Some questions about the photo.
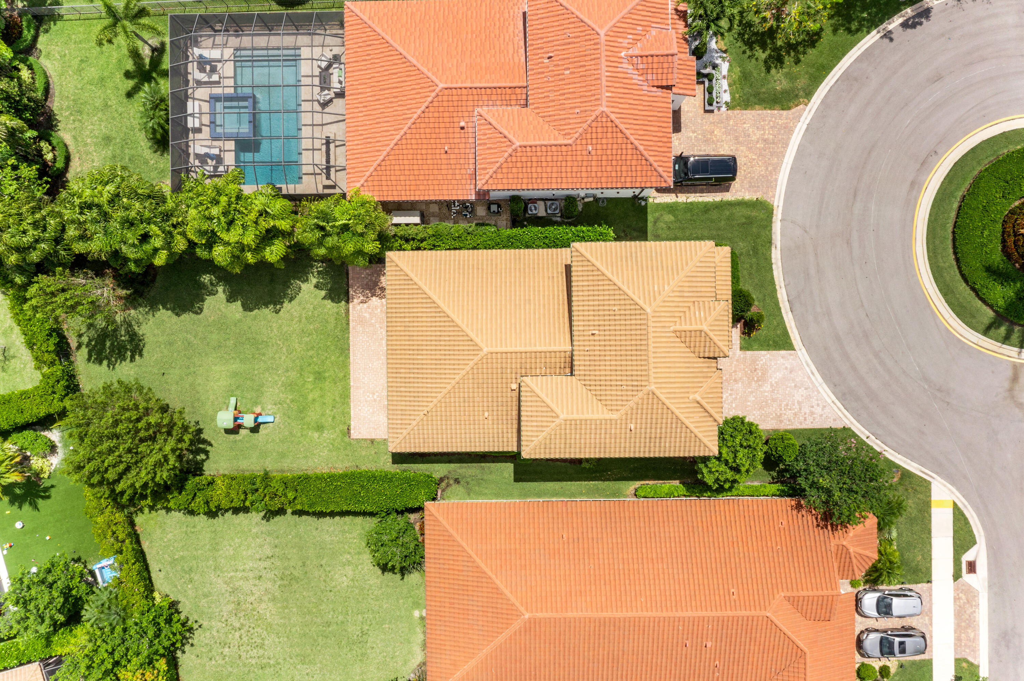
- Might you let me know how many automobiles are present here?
three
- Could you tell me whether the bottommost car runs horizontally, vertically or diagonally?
horizontally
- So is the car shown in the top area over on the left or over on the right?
right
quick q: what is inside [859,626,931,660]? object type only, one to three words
car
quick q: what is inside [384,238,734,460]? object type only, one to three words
house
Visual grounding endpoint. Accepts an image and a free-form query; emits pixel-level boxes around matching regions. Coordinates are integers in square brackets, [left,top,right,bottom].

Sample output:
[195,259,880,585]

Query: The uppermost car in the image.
[674,152,737,185]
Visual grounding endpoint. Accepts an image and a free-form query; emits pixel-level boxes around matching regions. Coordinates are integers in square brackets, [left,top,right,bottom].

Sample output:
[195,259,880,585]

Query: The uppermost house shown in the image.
[342,0,698,201]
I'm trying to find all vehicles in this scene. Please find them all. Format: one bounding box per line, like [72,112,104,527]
[857,587,926,620]
[674,152,737,185]
[859,626,931,660]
